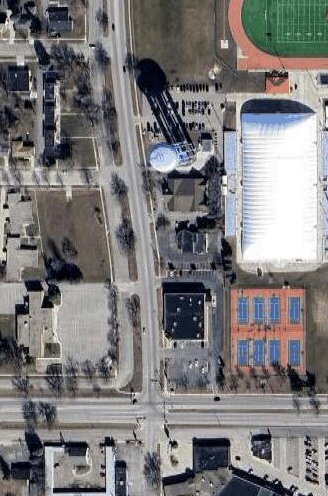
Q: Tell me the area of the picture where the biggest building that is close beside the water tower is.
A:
center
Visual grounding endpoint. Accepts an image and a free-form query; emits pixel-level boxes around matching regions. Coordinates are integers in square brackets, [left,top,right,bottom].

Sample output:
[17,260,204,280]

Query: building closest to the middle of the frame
[177,231,209,253]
